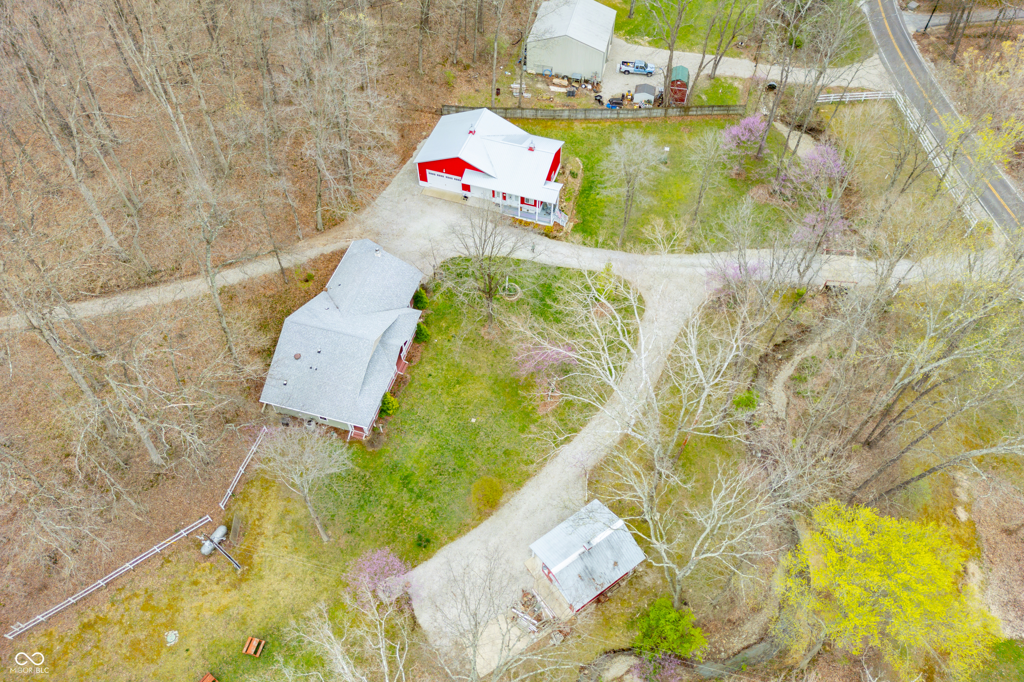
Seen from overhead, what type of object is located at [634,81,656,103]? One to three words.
shed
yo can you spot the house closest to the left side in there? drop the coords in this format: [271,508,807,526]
[258,240,424,449]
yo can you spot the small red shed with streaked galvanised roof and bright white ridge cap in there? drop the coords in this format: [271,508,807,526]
[526,499,647,614]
